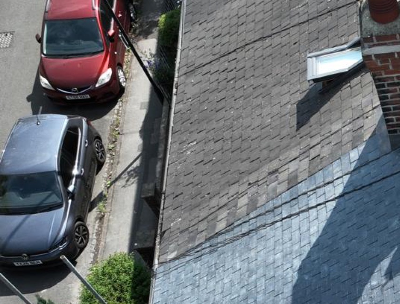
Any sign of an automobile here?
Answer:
Yes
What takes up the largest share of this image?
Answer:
buildings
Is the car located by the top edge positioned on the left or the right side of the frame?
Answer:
left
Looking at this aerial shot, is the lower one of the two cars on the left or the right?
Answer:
left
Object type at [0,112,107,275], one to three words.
car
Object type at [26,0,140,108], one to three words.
car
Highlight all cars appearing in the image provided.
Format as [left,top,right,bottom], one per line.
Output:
[0,112,107,275]
[26,0,140,108]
